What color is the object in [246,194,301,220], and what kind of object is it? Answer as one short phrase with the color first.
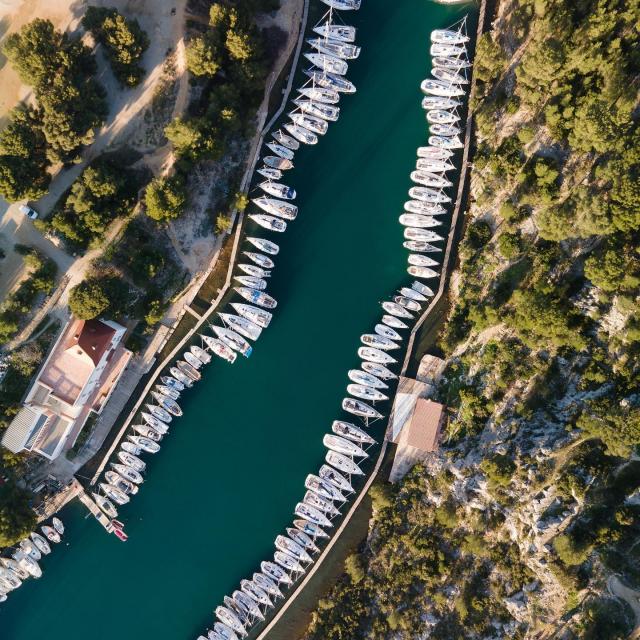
white boat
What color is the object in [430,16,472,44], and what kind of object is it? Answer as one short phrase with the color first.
white boat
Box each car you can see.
[21,205,38,218]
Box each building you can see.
[1,312,134,458]
[407,398,444,451]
